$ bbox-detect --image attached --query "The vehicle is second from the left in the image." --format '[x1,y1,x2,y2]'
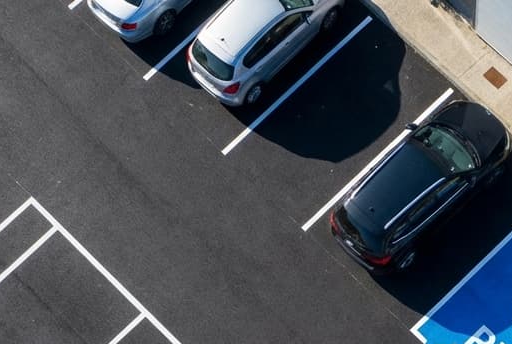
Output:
[188,0,351,103]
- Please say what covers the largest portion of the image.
paved ground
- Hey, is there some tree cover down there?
No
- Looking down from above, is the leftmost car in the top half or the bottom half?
top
